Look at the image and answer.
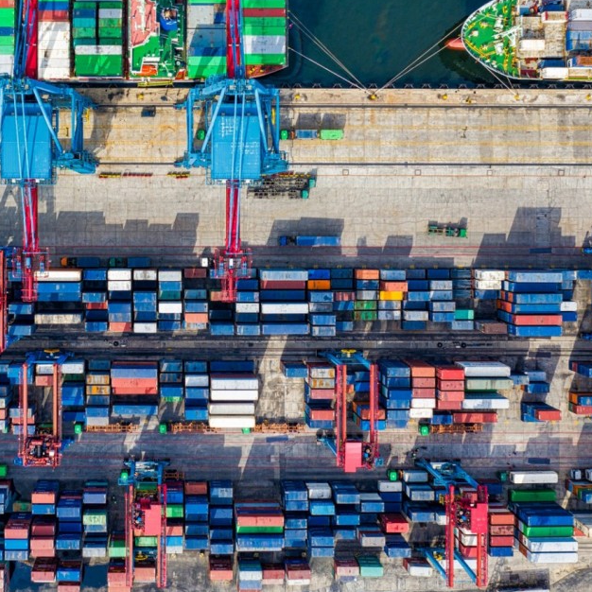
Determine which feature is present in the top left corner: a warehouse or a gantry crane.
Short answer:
gantry crane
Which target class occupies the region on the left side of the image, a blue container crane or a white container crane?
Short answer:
blue container crane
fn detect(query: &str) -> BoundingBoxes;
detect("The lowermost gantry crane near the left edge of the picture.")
[18,351,74,470]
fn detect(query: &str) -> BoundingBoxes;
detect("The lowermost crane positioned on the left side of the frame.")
[121,461,170,587]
